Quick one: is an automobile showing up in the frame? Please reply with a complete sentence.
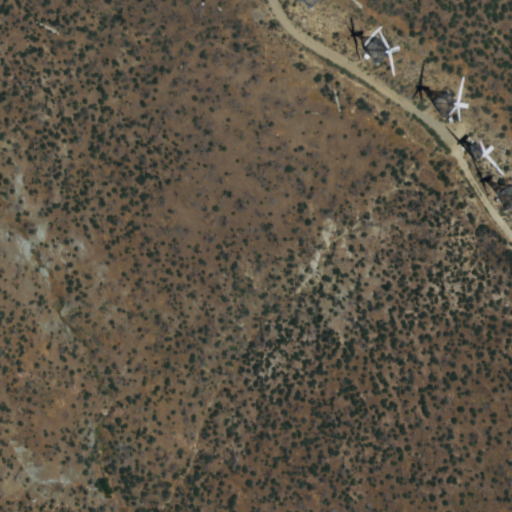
No, no automobile is visible in the view.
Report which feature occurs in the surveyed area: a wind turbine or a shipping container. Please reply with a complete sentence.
It is a wind turbine that can be seen here.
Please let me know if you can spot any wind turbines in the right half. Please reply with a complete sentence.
Yes, a wind turbine shows up in the right half.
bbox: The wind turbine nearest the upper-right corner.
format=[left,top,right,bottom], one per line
[432,76,469,120]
